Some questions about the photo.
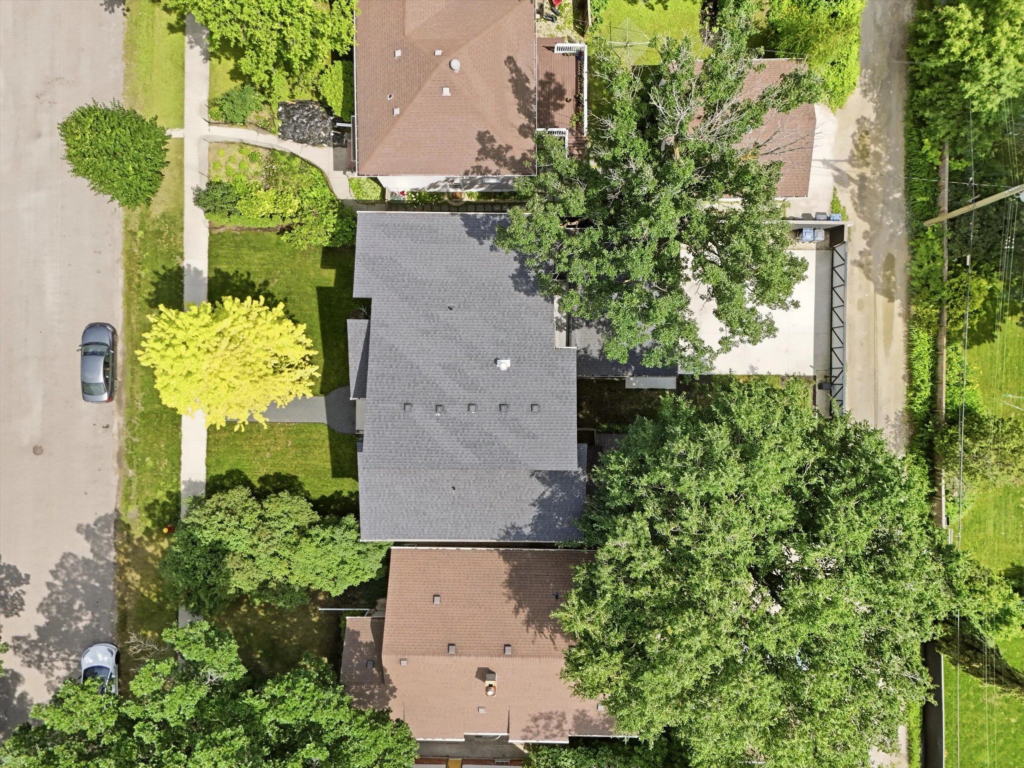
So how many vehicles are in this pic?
2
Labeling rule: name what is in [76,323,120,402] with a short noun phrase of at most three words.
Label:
car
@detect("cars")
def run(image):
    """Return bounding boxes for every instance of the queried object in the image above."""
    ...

[76,647,121,712]
[76,323,120,402]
